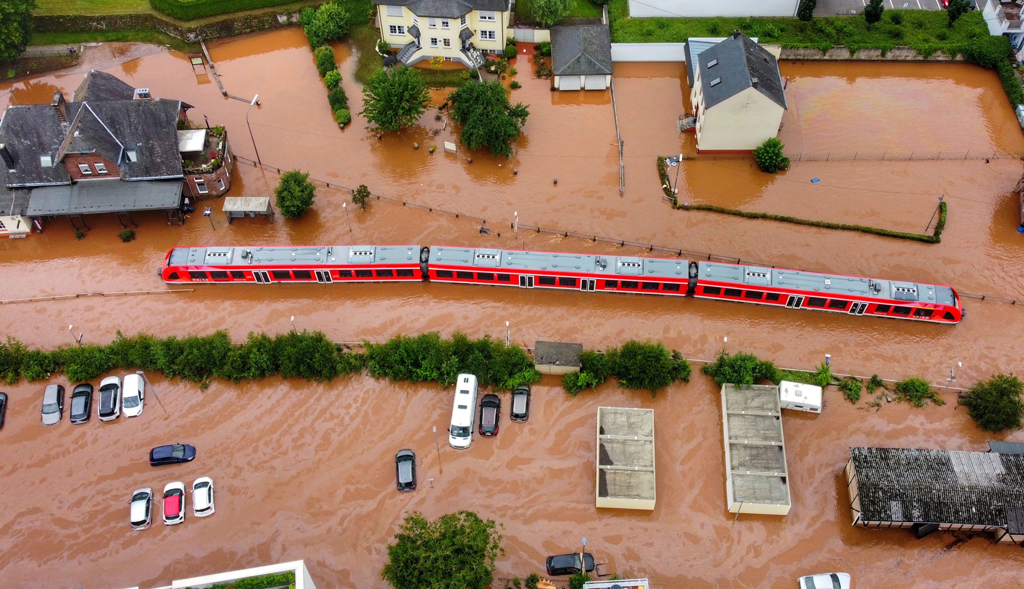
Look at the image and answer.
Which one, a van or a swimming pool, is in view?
van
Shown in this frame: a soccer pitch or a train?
train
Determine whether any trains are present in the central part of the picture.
Yes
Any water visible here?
Yes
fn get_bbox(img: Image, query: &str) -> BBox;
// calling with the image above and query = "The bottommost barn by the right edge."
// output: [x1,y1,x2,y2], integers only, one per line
[842,446,1024,551]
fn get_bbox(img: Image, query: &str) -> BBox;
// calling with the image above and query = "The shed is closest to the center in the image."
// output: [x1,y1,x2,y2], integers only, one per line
[534,337,584,375]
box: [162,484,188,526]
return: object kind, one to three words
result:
car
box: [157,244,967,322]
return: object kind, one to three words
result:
train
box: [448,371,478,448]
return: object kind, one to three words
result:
van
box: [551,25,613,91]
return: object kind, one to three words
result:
building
